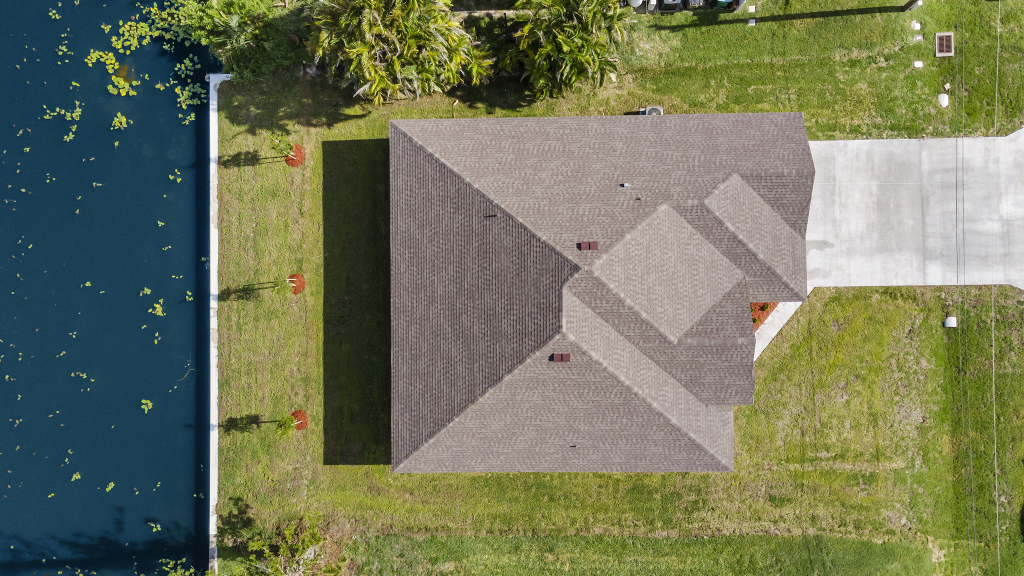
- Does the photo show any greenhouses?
No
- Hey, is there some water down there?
Yes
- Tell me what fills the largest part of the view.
grass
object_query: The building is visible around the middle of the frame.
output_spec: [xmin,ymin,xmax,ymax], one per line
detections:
[388,112,815,475]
